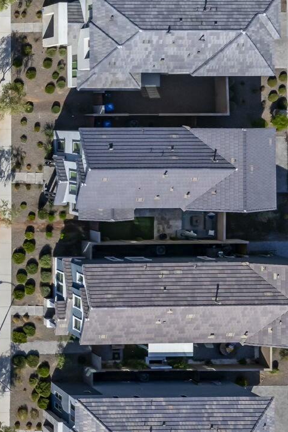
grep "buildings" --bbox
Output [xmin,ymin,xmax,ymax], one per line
[43,0,283,92]
[37,255,288,357]
[43,381,275,432]
[39,127,277,223]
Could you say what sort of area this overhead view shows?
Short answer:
residential area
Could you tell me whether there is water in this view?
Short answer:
No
